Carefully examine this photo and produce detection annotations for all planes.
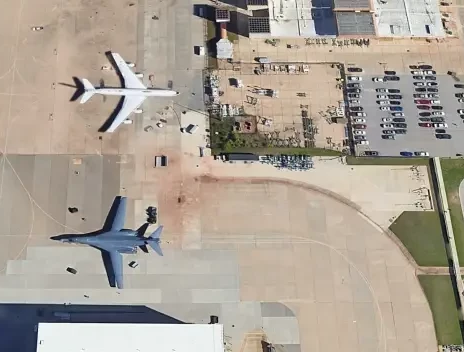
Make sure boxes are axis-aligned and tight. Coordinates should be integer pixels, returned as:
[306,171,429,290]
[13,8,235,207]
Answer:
[59,196,164,289]
[80,53,179,131]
